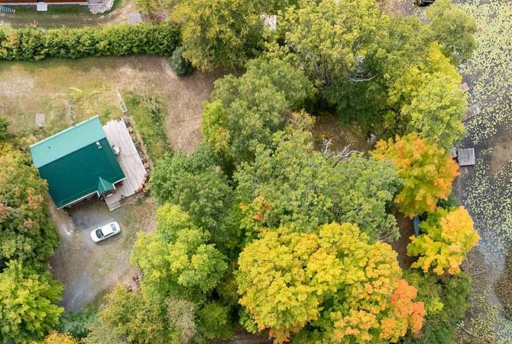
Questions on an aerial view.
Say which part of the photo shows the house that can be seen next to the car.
left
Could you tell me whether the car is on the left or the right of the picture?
left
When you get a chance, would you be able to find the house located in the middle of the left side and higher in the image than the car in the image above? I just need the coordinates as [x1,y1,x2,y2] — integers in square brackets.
[29,115,147,211]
